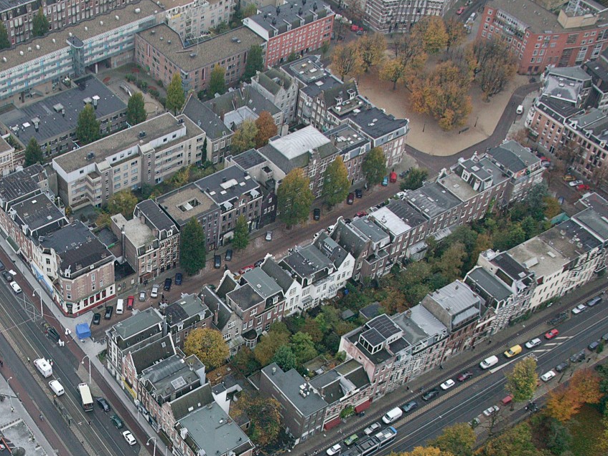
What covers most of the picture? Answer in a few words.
buildings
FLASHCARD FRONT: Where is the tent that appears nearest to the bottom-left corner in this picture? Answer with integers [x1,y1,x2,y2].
[71,323,95,345]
